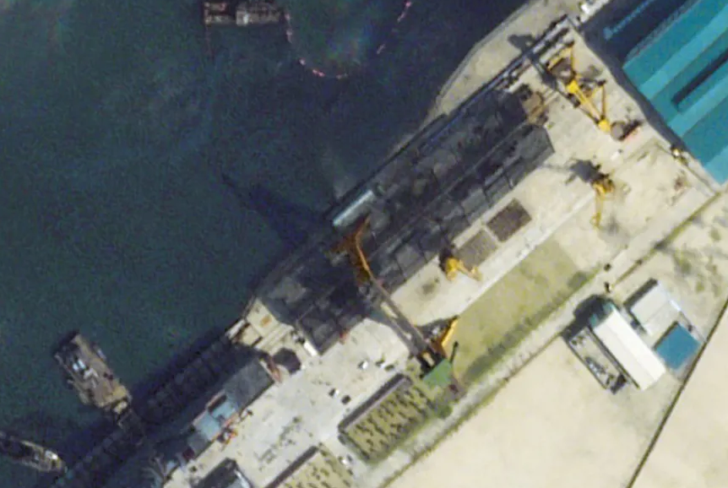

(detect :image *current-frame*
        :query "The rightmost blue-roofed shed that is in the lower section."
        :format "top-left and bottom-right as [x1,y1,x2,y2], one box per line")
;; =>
[656,320,700,369]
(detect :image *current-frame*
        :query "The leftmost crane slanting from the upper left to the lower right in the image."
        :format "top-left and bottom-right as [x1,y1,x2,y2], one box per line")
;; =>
[302,203,432,358]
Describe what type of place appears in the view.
port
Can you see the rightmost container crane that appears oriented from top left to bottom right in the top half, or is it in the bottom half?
top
